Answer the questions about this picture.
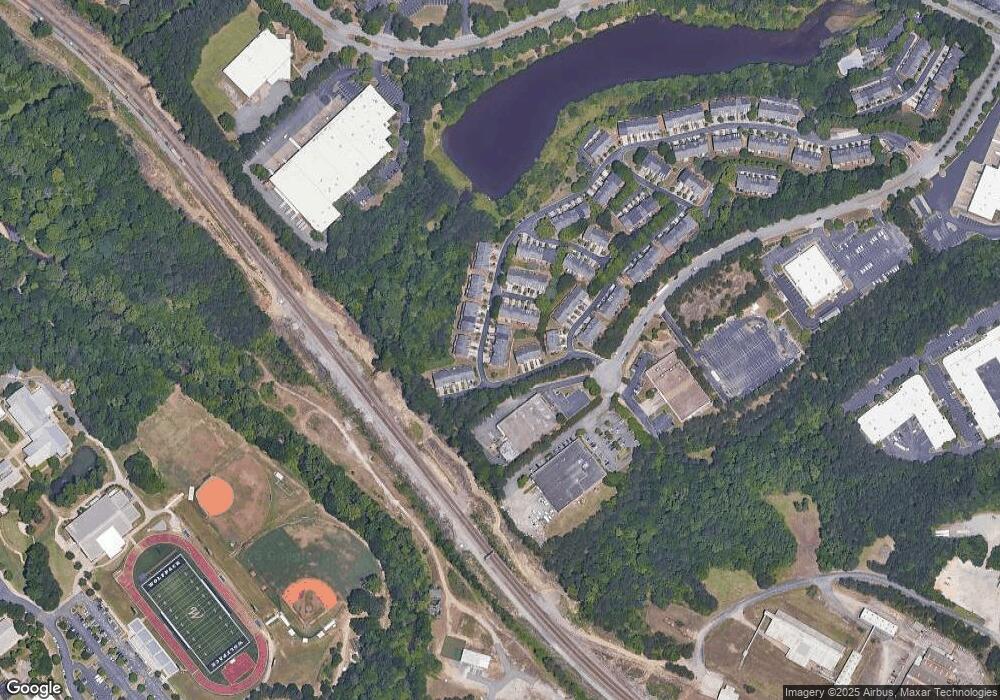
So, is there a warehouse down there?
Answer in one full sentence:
Yes, the image includes a warehouse.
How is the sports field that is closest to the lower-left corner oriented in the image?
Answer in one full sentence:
The sports field that is closest to the lower-left corner is oriented diagonally.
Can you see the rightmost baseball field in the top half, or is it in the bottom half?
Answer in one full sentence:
You can find the rightmost baseball field in the bottom half.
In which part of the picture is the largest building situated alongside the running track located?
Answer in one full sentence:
The largest building situated alongside the running track appears toward the bottom left of the photo.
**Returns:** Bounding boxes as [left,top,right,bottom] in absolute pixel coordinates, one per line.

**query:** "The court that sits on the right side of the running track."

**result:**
[441,636,467,662]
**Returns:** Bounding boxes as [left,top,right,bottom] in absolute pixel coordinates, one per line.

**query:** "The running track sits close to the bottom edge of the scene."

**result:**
[109,533,270,695]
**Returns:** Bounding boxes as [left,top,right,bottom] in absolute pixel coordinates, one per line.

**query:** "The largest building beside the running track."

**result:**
[64,488,140,562]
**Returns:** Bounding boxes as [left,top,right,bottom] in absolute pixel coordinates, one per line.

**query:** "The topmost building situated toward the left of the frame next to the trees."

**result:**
[223,28,290,98]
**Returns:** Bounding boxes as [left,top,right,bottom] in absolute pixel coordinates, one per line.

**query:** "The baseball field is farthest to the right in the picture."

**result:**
[246,515,377,638]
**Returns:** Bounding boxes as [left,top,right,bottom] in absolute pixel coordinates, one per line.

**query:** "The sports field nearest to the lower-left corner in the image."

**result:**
[132,544,259,684]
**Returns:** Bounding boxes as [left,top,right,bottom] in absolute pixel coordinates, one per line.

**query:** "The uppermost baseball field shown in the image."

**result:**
[195,478,234,515]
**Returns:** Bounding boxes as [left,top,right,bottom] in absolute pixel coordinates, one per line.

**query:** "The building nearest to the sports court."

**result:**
[461,648,491,669]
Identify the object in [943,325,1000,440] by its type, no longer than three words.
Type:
building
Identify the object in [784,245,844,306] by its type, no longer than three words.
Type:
building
